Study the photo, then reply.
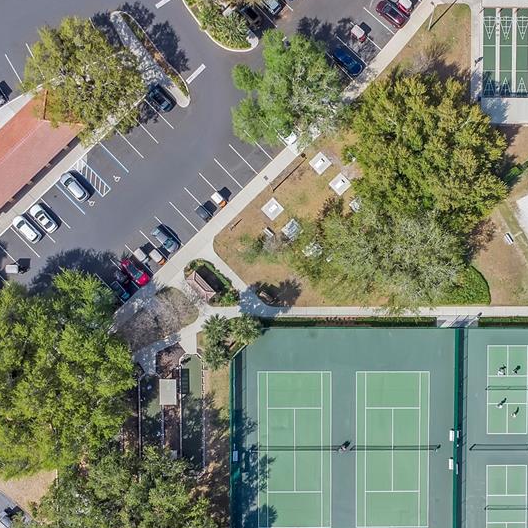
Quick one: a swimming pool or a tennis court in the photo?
tennis court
